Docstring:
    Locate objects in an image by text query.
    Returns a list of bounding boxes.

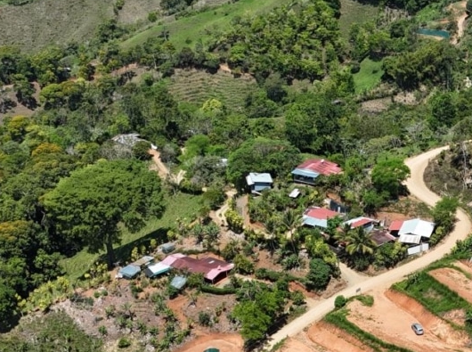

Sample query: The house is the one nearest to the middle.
[246,173,274,195]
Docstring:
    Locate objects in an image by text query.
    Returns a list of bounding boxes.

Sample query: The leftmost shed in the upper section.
[112,133,152,148]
